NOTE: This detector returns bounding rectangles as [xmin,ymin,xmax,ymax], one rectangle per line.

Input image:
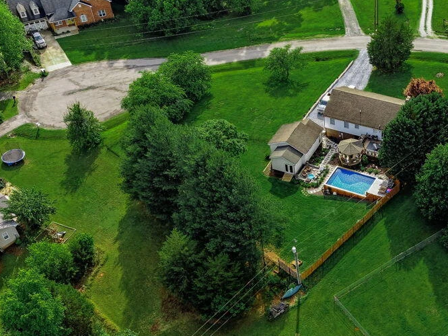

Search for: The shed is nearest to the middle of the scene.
[268,118,326,180]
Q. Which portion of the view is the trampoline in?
left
